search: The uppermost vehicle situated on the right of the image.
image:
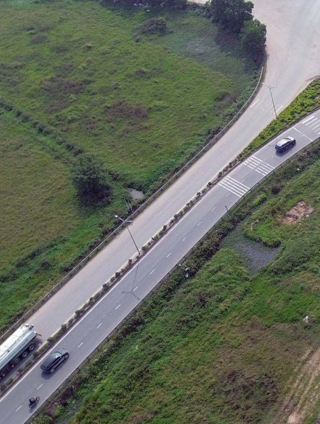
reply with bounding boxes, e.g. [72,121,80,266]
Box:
[274,136,296,153]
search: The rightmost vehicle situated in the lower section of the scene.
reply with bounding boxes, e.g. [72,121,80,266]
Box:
[41,348,69,373]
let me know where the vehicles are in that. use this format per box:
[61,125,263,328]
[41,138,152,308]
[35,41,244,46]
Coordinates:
[0,327,31,366]
[41,348,69,373]
[274,136,296,153]
[28,398,37,408]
